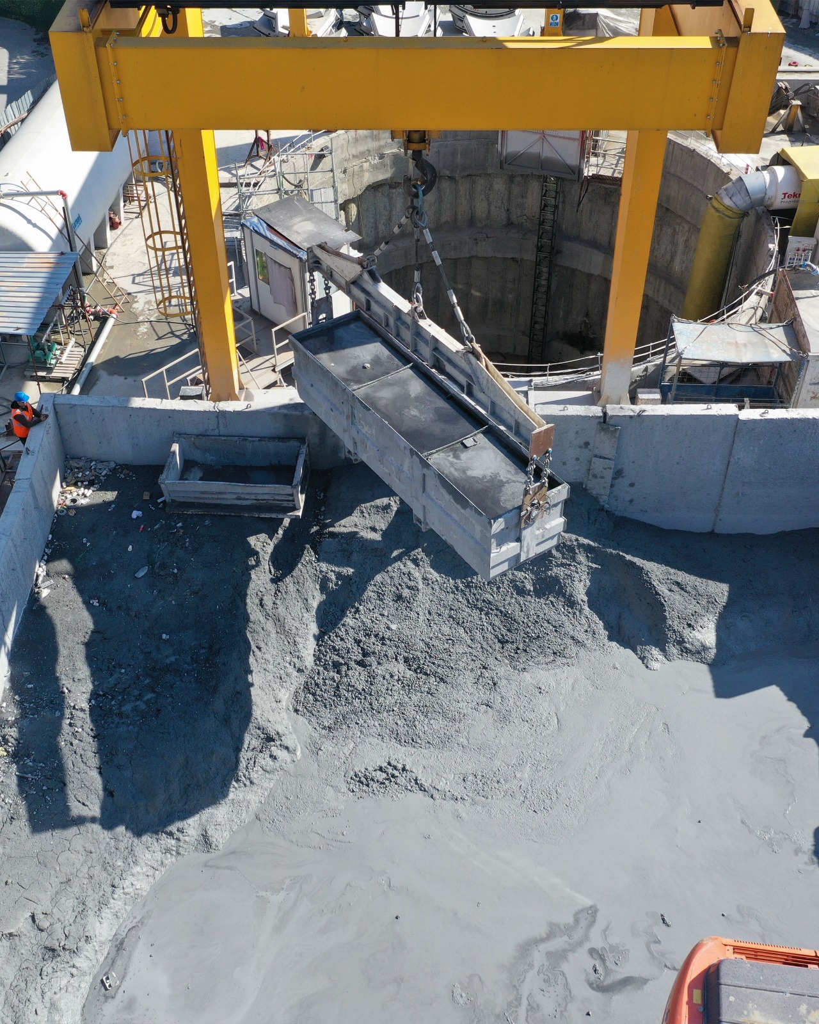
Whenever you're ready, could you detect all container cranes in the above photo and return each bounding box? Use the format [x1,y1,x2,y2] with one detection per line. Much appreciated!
[44,0,793,416]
